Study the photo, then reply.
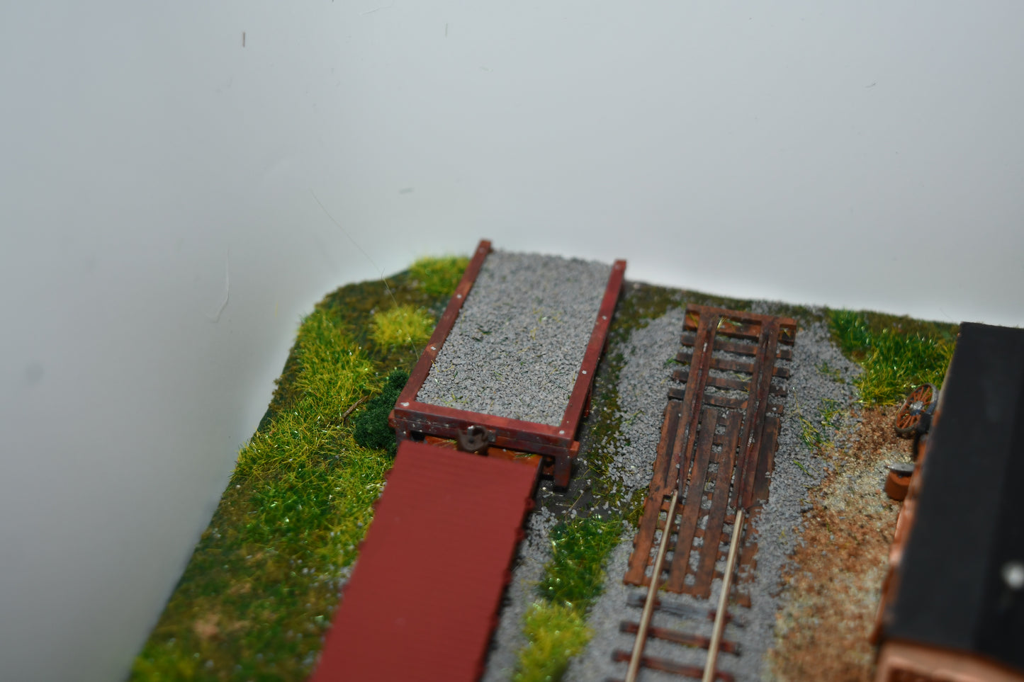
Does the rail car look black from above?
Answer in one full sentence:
No, from above the rail car looks red.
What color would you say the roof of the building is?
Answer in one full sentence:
The roof of the building is black.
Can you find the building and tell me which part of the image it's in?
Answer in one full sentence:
The building appears toward the bottom right of the photo.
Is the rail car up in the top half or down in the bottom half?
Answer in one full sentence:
The rail car sits in the bottom half of the picture.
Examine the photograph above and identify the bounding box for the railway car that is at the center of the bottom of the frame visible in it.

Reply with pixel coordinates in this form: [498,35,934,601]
[310,425,540,682]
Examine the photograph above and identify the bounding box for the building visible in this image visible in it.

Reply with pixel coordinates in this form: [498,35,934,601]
[869,324,1024,682]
